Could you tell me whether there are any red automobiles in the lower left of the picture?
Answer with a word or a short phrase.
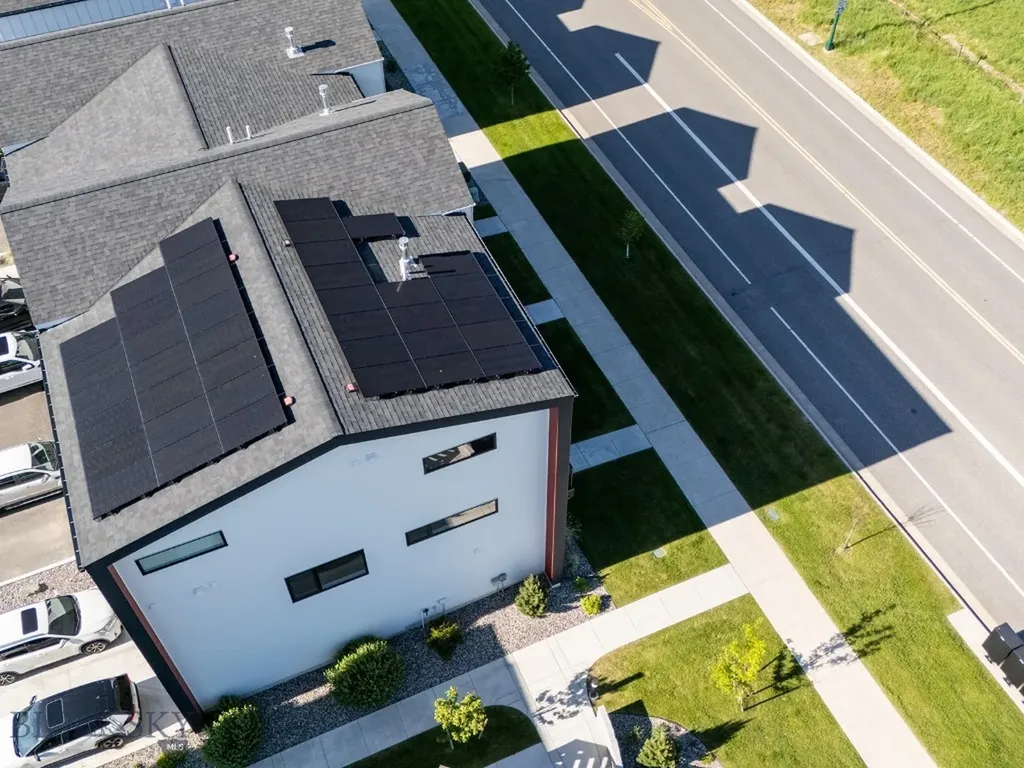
No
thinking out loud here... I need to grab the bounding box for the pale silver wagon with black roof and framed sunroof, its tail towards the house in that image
[0,669,144,768]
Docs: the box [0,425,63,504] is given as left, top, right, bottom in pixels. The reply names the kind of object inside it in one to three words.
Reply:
car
